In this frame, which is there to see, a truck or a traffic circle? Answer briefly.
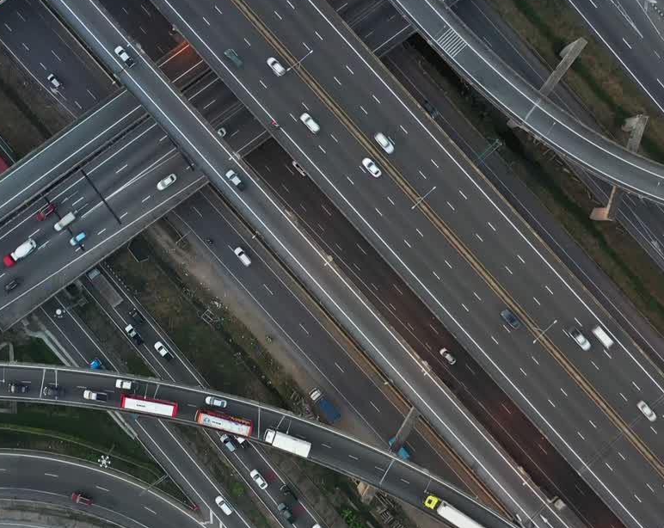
truck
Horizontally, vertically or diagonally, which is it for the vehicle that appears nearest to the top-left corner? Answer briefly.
diagonally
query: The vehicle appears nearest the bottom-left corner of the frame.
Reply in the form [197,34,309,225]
[70,491,95,506]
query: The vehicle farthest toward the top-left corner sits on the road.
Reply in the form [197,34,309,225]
[46,70,67,92]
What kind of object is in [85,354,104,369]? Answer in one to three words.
vehicle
